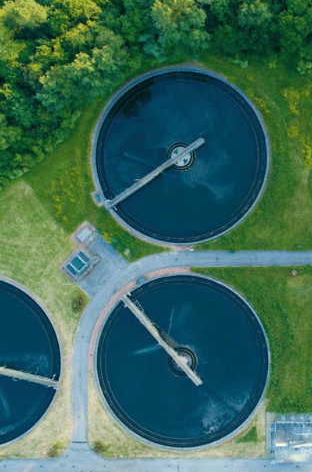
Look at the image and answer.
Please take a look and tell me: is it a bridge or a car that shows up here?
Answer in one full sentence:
There is a bridge in the scene.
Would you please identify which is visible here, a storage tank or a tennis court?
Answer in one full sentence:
I can see a storage tank in this picture.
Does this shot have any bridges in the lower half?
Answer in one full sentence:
Yes, a bridge appears in the lower half.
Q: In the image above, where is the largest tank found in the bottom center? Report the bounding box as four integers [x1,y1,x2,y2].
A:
[93,272,272,450]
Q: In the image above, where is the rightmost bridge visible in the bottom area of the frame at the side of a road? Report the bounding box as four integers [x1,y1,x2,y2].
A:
[118,292,202,385]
